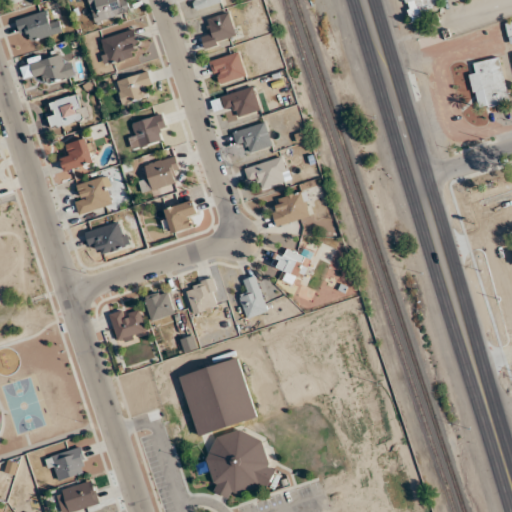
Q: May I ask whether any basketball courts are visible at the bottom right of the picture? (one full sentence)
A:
No, no basketball court appears at the bottom right of the picture.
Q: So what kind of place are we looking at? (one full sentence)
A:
This looks like a residential area.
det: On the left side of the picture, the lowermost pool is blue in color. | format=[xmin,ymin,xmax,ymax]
[100,145,114,168]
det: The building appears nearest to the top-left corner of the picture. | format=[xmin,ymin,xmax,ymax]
[16,12,62,40]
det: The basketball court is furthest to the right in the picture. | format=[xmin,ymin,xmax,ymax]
[2,378,46,434]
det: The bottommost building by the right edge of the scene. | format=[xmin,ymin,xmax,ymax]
[467,62,508,109]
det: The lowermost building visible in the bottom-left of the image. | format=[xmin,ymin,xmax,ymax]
[56,481,99,512]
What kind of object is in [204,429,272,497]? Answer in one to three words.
building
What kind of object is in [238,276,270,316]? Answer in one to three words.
house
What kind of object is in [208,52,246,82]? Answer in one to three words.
house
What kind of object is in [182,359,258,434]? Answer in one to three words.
building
